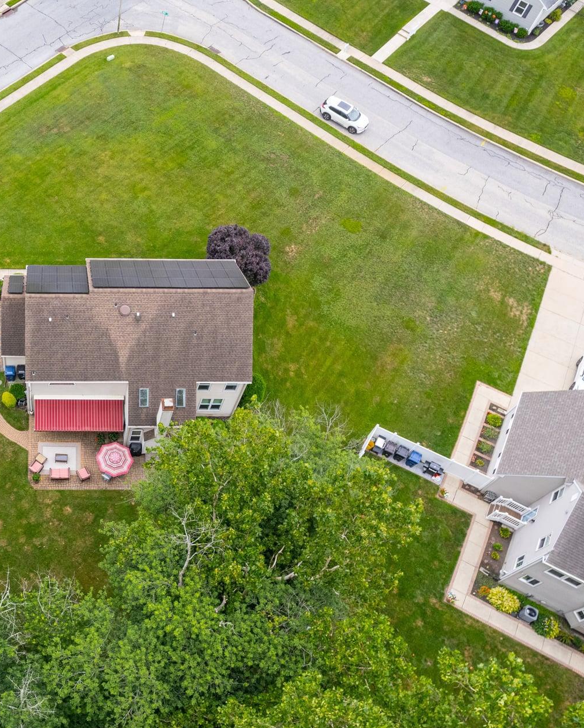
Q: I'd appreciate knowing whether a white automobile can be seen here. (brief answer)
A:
Yes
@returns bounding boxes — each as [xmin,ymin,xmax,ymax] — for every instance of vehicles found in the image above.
[568,352,584,390]
[320,93,372,135]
